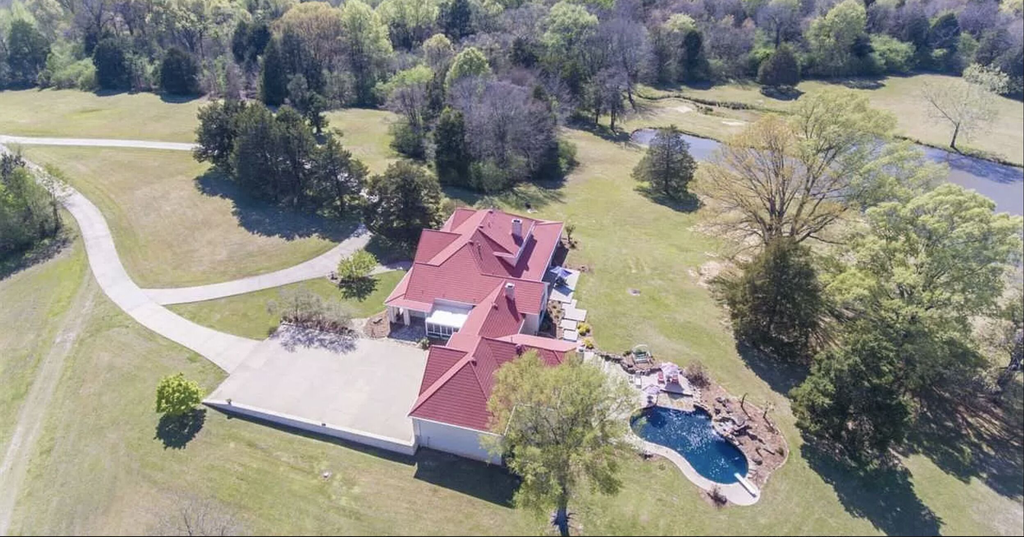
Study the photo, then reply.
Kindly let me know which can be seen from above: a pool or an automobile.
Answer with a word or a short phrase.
pool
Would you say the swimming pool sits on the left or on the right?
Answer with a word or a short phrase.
right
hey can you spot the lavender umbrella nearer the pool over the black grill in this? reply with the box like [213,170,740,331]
[642,382,662,402]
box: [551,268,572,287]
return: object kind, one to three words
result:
umbrella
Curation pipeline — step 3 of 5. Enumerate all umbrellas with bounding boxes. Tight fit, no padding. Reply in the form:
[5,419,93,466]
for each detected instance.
[661,361,683,382]
[551,268,572,287]
[642,382,662,402]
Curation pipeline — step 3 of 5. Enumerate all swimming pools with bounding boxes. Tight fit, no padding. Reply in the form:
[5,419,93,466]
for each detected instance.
[628,402,750,485]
